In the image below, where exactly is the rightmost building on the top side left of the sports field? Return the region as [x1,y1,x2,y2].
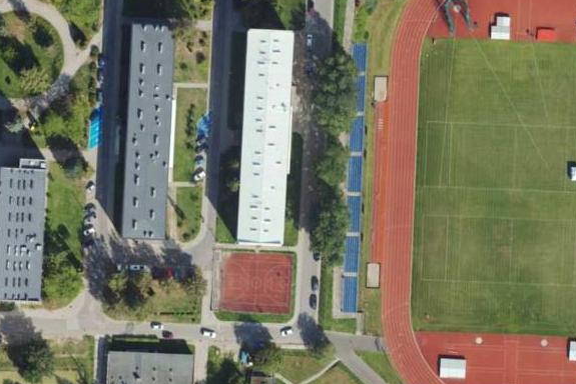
[236,29,294,244]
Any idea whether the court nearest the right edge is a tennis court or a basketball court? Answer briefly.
basketball court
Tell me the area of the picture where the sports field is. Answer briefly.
right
